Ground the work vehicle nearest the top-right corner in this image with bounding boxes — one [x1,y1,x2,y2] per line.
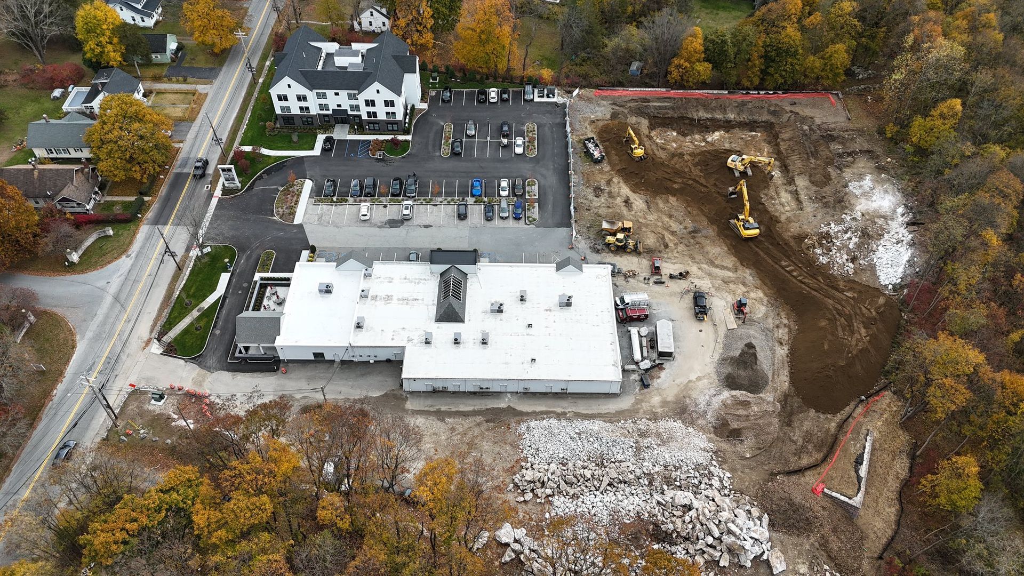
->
[729,151,778,176]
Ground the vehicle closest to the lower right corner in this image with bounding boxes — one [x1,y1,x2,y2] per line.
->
[732,302,754,324]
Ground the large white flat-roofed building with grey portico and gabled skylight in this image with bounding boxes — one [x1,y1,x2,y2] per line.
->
[230,243,624,395]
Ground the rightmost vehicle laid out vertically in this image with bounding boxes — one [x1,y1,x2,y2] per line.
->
[732,184,762,244]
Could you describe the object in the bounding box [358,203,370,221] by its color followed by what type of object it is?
white vehicle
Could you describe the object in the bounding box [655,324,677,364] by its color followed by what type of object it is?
white trailer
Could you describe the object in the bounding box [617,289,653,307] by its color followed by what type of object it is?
white vehicle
